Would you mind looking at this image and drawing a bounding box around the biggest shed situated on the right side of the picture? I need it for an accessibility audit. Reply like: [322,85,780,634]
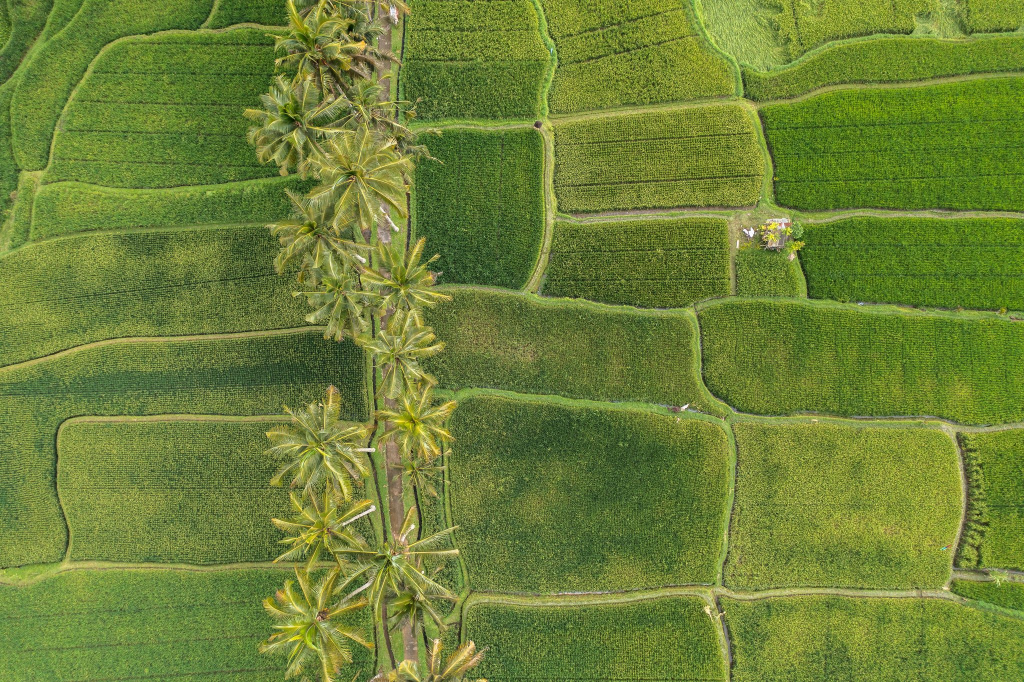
[758,218,794,250]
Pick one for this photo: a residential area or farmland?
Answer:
farmland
